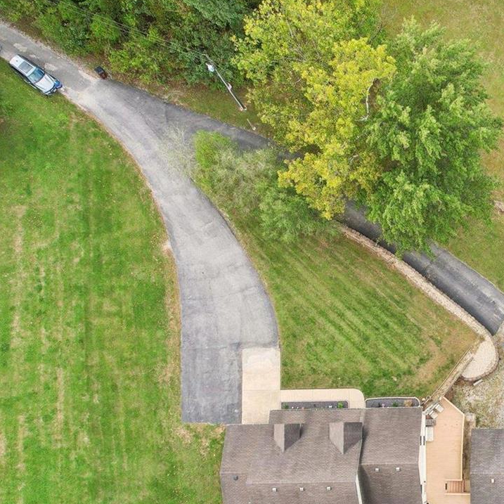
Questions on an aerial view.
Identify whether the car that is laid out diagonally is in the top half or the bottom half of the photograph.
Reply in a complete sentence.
The car that is laid out diagonally is in the top half of the image.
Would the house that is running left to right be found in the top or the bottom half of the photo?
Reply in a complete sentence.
The bottom half of the photo is where the house that is running left to right is.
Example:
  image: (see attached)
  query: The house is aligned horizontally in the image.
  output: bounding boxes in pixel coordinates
[216,408,426,504]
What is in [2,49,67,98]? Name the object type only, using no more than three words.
car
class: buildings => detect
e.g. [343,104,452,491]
[469,428,504,504]
[216,408,426,504]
